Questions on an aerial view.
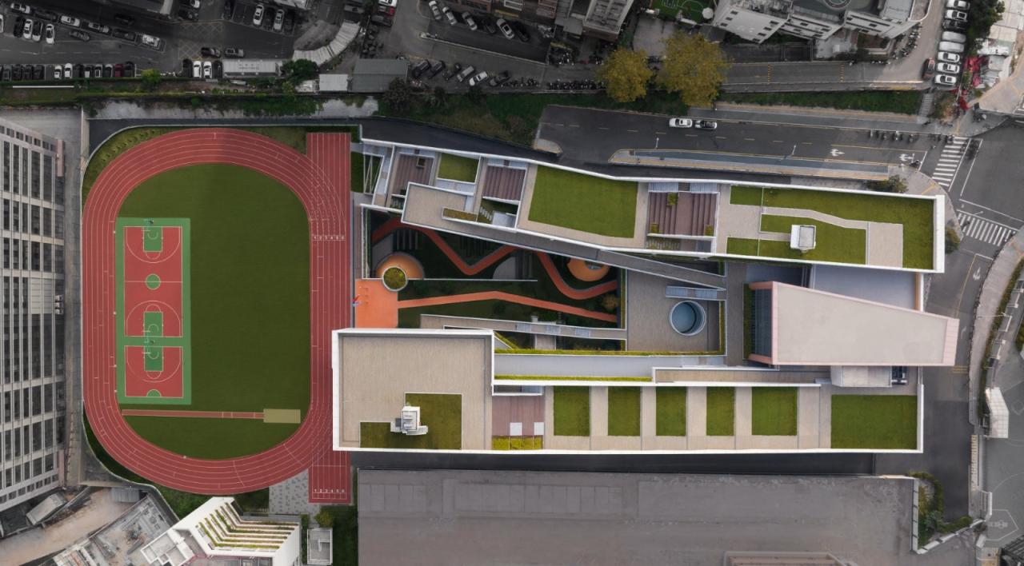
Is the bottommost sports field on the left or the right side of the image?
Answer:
left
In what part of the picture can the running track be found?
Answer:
left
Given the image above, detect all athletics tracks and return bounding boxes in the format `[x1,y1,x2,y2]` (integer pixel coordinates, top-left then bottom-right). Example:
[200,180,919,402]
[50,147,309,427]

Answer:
[83,129,351,505]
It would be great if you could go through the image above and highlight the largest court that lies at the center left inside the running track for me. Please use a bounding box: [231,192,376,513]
[117,218,191,342]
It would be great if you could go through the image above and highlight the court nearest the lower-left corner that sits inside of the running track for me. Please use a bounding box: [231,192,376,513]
[117,342,191,404]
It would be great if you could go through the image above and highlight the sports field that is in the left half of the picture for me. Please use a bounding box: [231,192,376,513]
[116,163,311,460]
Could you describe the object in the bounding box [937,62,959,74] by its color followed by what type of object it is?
white vehicle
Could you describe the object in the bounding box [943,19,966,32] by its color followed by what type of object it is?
black vehicle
